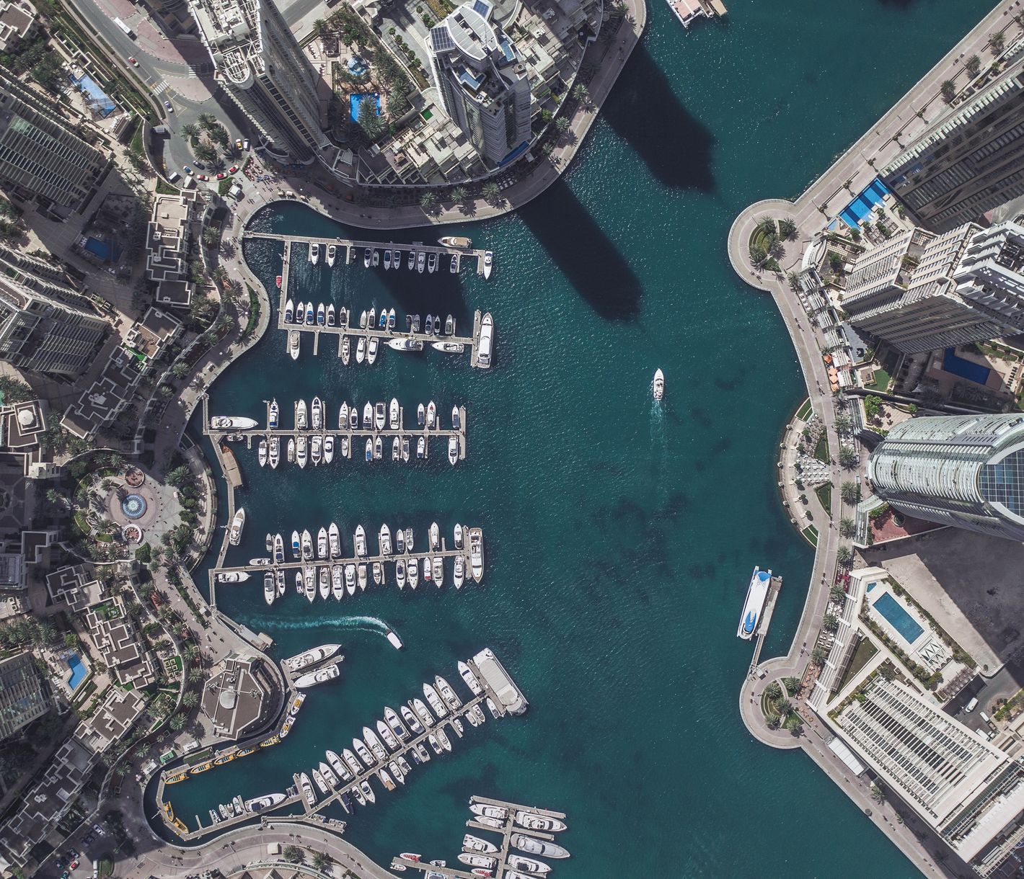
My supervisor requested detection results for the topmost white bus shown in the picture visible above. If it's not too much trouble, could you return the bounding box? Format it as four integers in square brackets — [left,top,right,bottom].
[112,13,133,38]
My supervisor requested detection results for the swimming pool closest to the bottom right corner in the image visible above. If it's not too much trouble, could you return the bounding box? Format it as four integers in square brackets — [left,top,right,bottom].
[872,591,925,646]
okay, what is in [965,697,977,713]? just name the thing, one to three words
vehicle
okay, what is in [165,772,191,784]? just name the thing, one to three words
boat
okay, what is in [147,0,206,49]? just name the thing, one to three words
building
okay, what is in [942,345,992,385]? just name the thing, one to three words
swimming pool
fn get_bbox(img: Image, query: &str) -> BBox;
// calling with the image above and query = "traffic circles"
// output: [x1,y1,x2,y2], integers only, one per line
[188,120,232,165]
